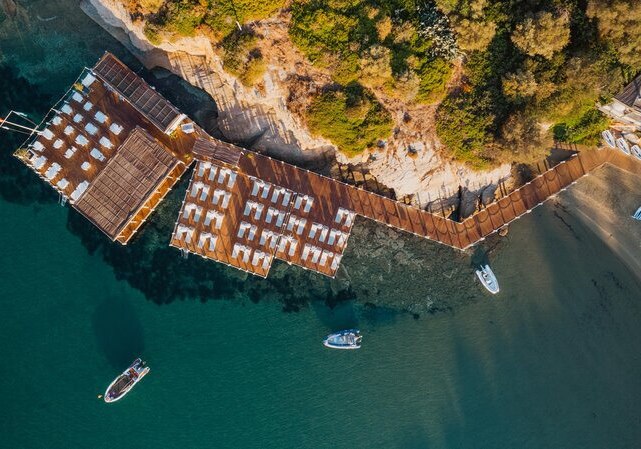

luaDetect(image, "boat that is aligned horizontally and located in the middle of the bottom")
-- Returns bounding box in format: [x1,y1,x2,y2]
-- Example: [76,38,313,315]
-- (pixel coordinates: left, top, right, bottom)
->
[322,333,363,351]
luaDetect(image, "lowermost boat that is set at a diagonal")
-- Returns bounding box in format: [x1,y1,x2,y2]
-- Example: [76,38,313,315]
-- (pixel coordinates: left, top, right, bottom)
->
[102,359,148,403]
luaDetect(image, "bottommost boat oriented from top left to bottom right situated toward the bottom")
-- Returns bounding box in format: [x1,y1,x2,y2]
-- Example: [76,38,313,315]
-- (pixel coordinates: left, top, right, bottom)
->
[476,264,500,295]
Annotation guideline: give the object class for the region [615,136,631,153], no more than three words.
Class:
boat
